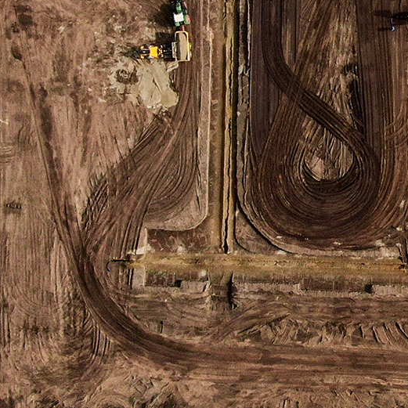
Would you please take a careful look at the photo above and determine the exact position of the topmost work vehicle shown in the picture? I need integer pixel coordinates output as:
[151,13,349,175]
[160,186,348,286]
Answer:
[172,0,190,26]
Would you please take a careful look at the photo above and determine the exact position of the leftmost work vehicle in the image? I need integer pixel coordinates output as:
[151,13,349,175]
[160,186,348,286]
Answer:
[136,44,175,60]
